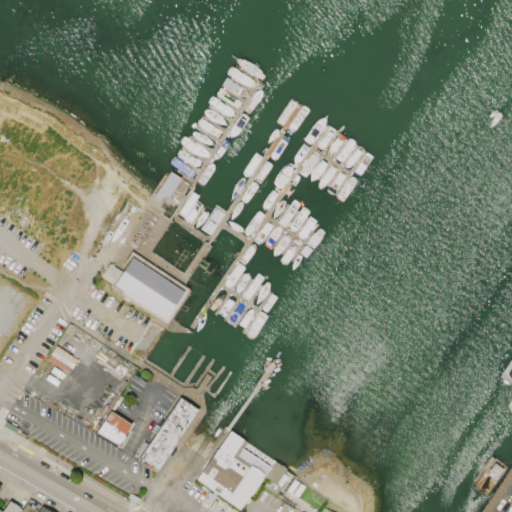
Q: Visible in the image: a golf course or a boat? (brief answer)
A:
boat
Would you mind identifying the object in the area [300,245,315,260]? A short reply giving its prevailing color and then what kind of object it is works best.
white boat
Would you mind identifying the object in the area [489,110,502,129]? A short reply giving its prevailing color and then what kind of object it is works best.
white boat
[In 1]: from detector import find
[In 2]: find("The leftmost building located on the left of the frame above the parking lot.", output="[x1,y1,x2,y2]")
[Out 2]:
[49,345,81,374]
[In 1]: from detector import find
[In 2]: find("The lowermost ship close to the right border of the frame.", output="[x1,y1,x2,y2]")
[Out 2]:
[476,459,508,496]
